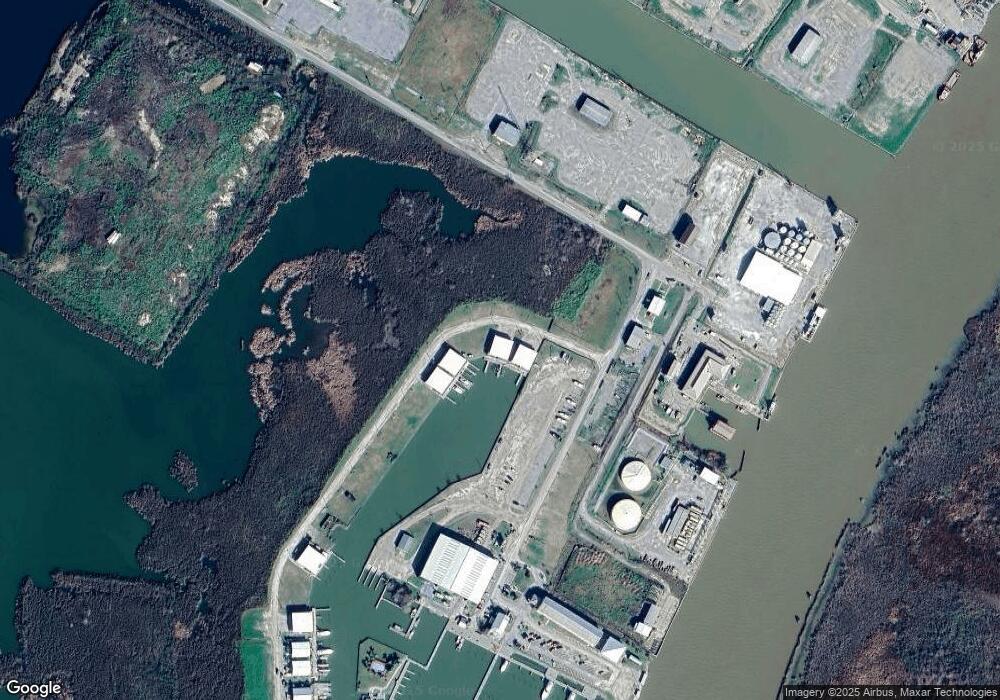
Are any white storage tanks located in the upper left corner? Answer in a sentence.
No, in the upper left corner there is no white storage tank.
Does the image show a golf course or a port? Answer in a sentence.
It's a port.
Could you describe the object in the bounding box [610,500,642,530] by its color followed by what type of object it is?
white storage tank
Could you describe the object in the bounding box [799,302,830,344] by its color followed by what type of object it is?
white ship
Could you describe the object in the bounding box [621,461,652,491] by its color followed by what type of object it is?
white storage tank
